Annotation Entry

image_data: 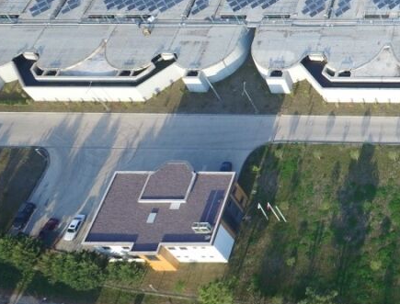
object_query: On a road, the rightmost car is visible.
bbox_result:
[60,209,92,248]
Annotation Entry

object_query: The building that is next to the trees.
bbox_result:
[82,163,251,271]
